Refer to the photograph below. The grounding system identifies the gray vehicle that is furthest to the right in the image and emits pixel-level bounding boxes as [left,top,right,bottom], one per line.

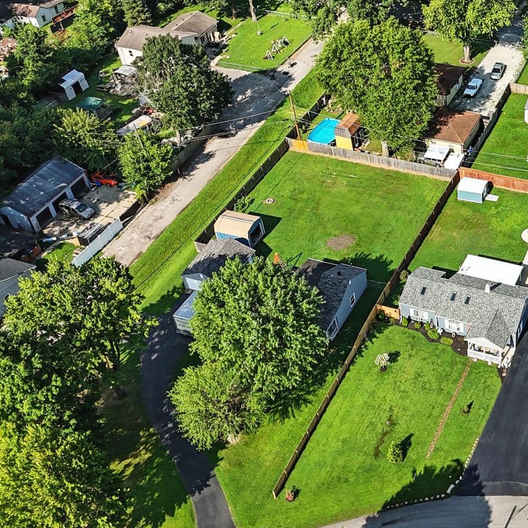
[486,60,508,80]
